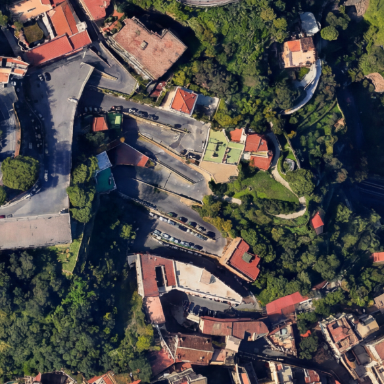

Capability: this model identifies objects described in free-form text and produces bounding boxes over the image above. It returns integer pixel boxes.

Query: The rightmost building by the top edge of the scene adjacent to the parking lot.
[106,8,191,83]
